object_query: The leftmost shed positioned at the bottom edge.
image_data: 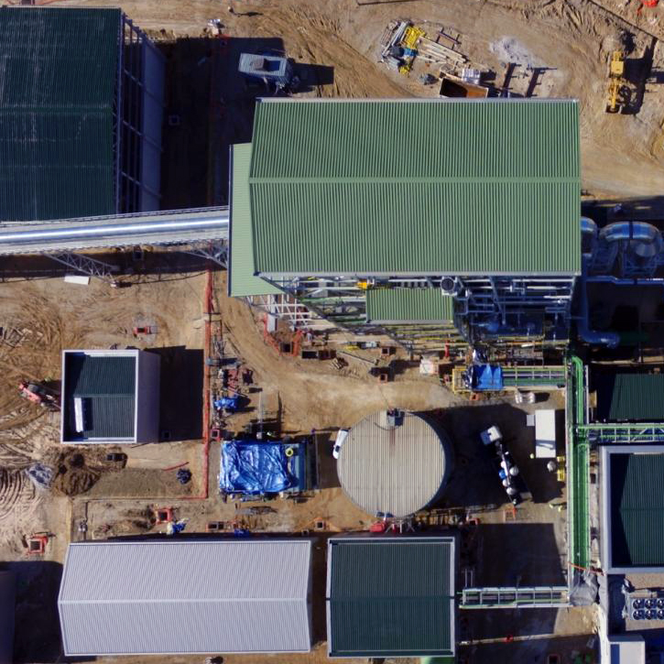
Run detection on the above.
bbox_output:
[60,533,325,657]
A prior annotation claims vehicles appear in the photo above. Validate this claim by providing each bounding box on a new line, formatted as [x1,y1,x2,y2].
[15,381,59,413]
[487,430,536,515]
[327,427,348,458]
[608,55,628,113]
